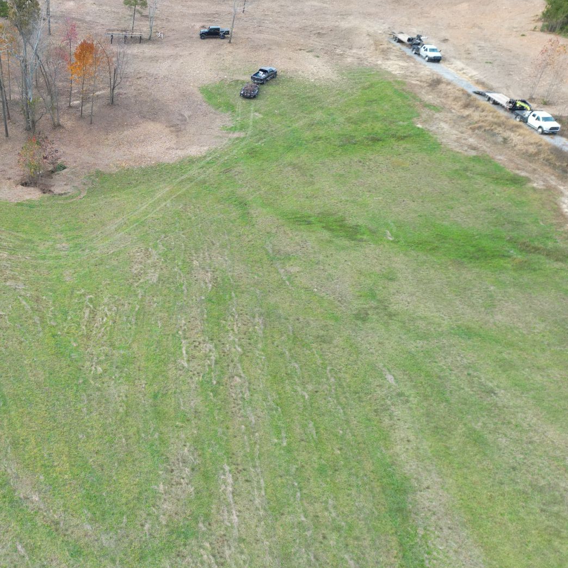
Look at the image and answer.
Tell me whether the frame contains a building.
No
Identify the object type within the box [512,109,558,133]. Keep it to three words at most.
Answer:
truck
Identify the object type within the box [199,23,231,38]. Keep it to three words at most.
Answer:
vehicle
